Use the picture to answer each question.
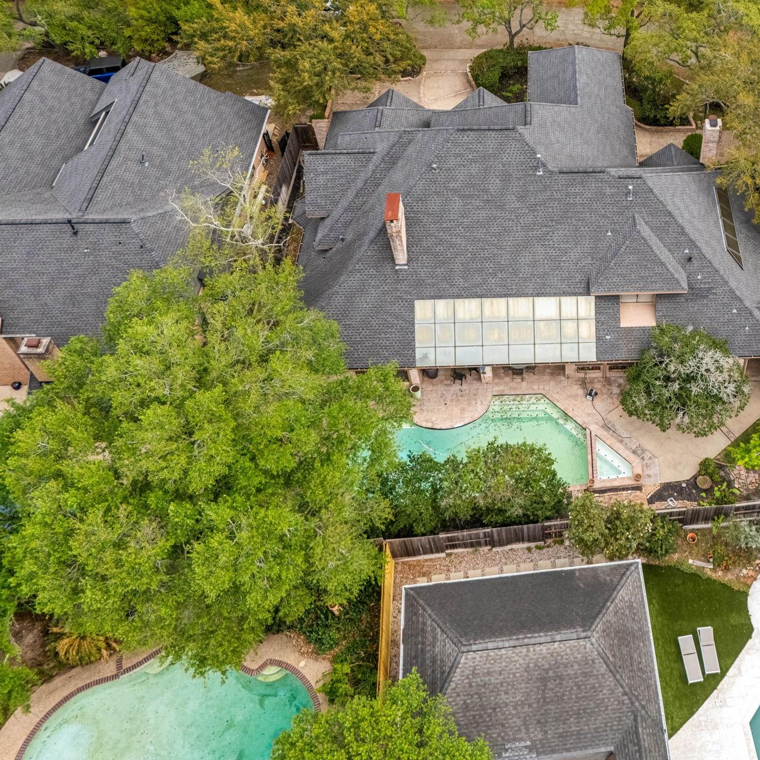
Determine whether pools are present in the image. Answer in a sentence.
Yes, a pool appears in the view.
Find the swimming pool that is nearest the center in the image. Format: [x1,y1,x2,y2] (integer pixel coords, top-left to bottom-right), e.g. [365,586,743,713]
[354,394,588,505]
